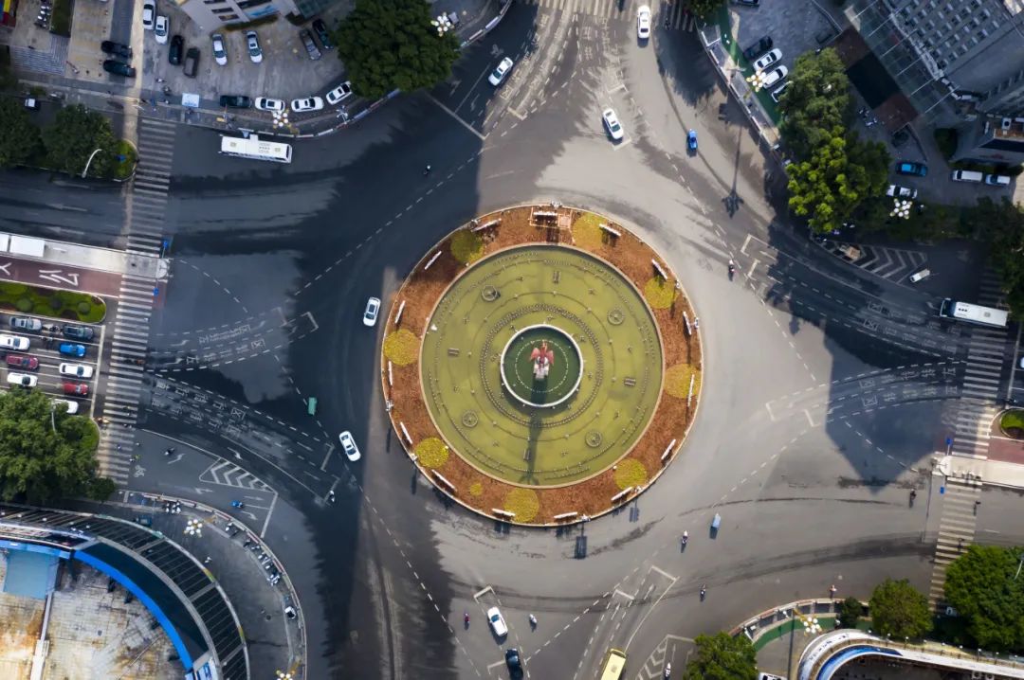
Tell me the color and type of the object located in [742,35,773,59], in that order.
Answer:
black car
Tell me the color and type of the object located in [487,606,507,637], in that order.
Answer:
white car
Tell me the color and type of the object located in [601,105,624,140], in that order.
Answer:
white car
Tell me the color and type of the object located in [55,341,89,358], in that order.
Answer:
blue car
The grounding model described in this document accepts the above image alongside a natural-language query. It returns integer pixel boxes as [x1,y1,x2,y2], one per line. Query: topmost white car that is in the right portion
[636,5,652,39]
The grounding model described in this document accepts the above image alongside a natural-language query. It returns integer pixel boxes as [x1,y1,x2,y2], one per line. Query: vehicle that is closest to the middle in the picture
[364,296,380,327]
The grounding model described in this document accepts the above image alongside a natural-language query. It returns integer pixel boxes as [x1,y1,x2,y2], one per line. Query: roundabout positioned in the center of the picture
[381,205,703,527]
